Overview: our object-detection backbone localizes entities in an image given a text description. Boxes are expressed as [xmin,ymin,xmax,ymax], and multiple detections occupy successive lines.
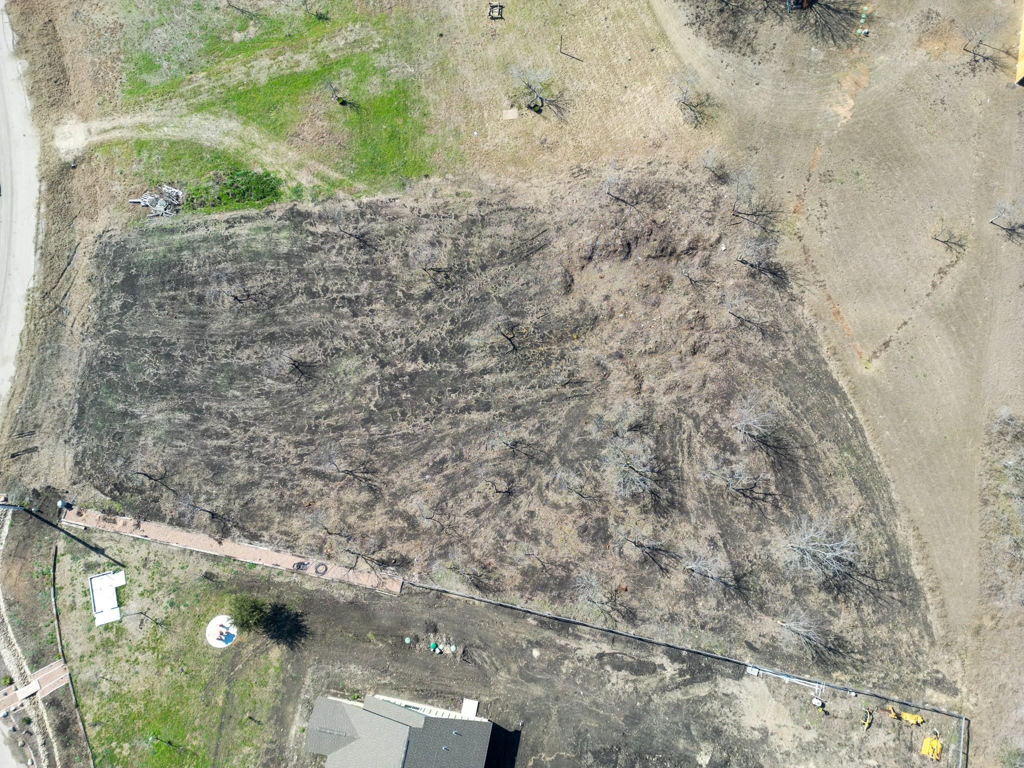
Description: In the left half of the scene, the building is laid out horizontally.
[305,692,494,768]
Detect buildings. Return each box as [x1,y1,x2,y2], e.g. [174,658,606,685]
[1016,0,1024,85]
[305,692,494,768]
